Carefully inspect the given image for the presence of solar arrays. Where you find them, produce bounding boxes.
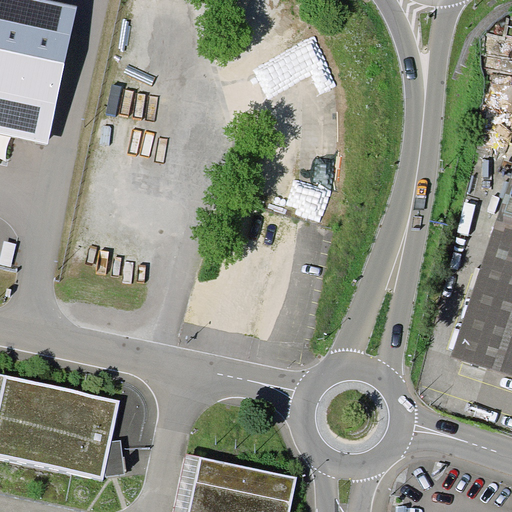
[0,96,41,128]
[0,0,62,30]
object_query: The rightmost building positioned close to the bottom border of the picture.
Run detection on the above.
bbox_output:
[190,458,296,512]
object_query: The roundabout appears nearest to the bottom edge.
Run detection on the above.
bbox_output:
[287,350,418,484]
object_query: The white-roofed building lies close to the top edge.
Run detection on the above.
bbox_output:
[0,0,76,146]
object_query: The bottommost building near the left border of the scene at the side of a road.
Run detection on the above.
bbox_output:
[0,374,118,483]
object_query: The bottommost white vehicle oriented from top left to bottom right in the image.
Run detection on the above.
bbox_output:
[412,468,434,492]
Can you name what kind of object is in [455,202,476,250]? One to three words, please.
vehicle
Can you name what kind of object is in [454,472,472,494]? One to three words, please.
car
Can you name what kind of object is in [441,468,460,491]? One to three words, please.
car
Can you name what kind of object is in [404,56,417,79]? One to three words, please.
vehicle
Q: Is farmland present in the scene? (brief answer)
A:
No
